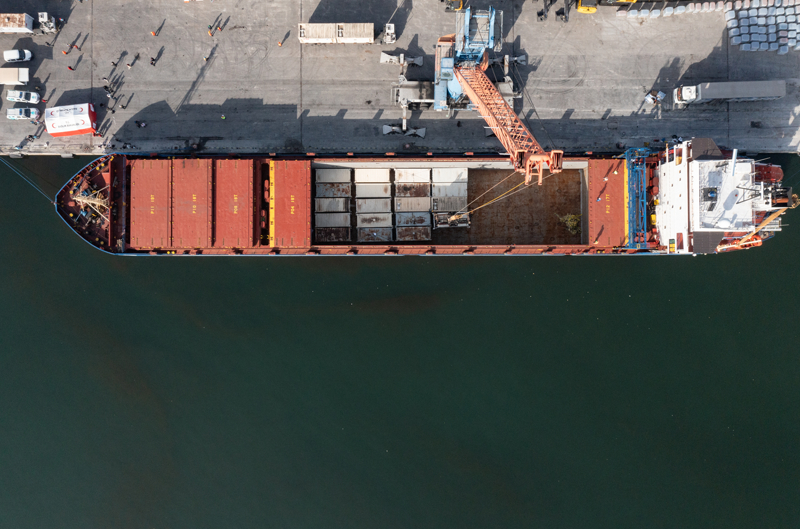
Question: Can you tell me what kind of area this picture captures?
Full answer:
This looks like a port.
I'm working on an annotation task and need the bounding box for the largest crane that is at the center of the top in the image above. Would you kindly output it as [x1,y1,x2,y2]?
[383,2,563,188]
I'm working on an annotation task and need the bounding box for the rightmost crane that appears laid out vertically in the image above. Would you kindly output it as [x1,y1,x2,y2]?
[614,144,659,252]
